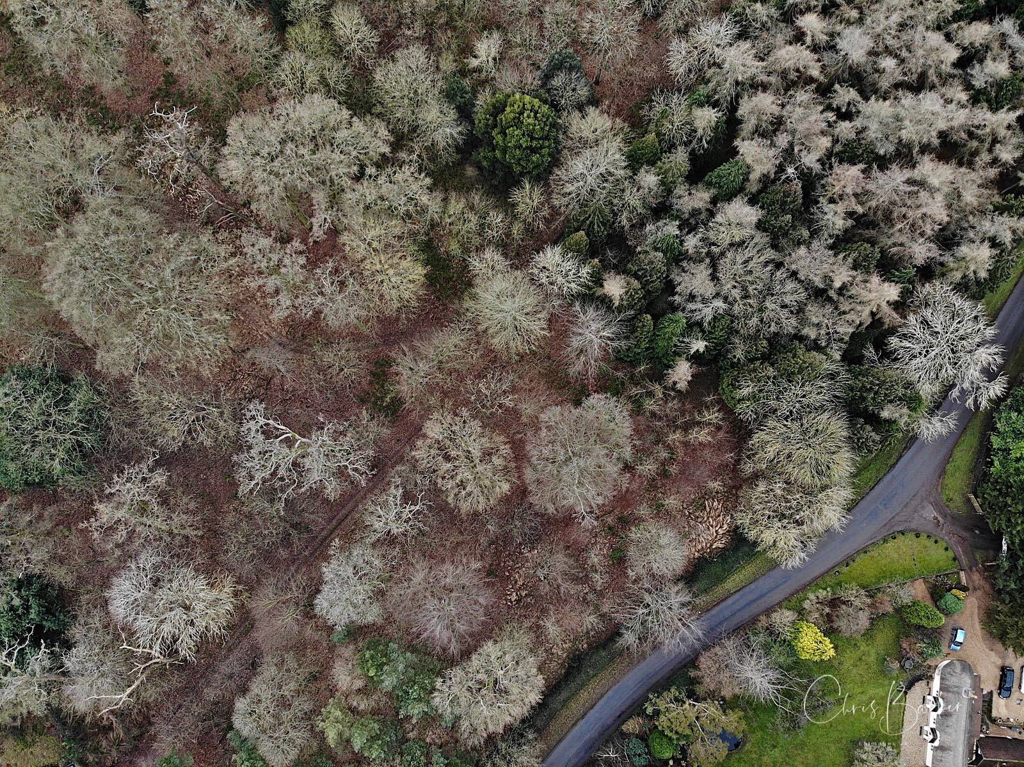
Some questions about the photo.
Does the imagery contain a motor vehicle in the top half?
No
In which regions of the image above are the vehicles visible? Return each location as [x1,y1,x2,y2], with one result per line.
[1019,661,1024,693]
[947,626,967,653]
[995,664,1017,701]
